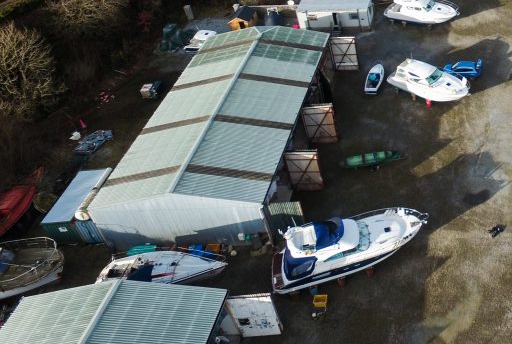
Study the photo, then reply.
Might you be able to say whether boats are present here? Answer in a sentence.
Yes, I can see a boat in this picture.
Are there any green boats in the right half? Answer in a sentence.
Yes, a green boat appears in the right half.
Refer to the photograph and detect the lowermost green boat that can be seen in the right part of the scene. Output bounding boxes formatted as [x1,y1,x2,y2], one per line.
[344,153,399,169]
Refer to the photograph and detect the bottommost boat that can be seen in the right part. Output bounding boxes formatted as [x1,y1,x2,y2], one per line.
[268,212,428,307]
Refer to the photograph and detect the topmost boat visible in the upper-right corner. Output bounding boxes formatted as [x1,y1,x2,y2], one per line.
[383,0,459,27]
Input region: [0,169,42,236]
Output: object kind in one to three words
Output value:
boat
